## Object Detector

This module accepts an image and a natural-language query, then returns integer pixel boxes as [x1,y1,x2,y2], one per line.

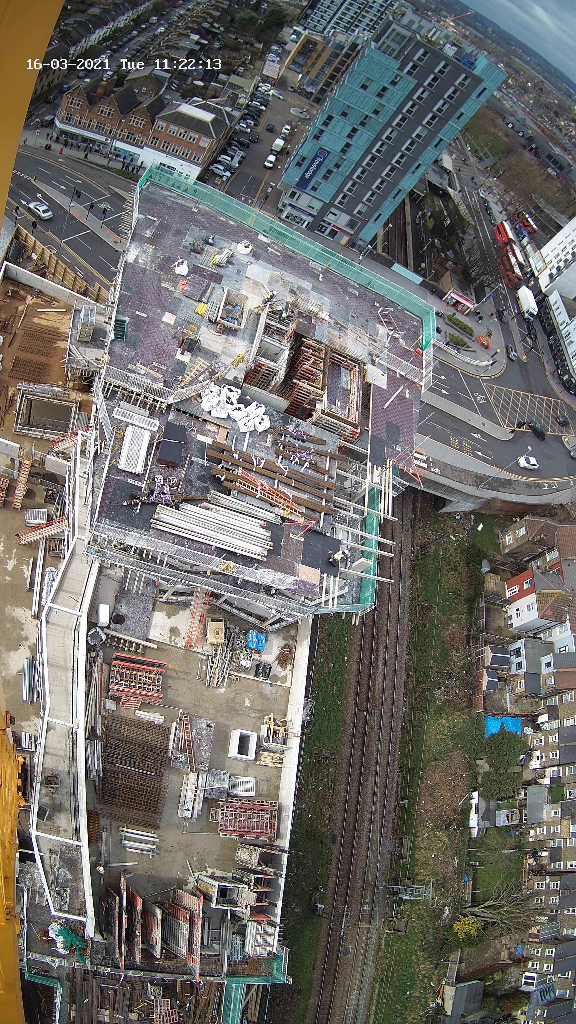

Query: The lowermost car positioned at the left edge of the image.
[24,199,58,218]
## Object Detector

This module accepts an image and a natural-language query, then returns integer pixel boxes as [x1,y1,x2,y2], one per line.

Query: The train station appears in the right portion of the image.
[403,159,463,276]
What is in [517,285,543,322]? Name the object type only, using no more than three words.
truck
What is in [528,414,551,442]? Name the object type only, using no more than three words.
car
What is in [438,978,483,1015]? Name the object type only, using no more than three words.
shed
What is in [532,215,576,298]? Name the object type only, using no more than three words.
building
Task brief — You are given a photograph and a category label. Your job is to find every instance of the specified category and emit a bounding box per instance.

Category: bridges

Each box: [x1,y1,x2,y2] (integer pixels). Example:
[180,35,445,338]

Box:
[384,464,477,515]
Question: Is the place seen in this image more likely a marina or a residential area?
residential area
